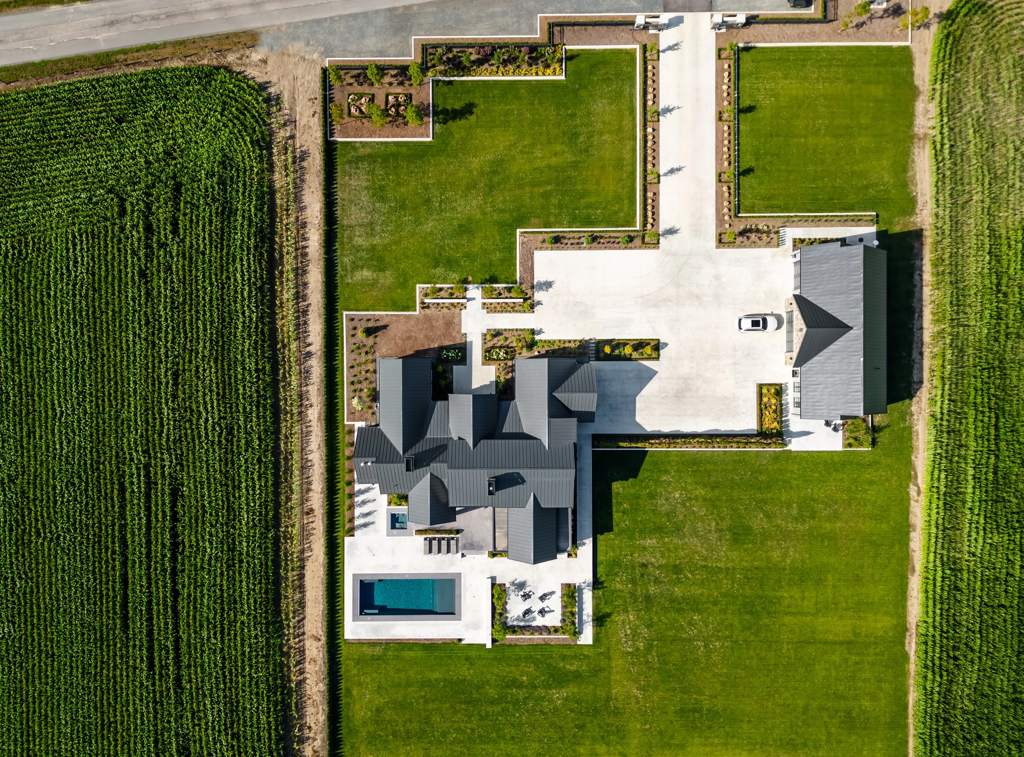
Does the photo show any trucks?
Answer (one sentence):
No, there is no truck in the image.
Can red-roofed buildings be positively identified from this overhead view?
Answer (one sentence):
No, the scene contains no red-roofed building.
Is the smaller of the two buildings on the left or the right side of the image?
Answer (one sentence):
The smaller of the two buildings appears in the right half of the scene.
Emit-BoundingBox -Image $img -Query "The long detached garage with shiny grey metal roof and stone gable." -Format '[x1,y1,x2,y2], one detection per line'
[783,242,888,420]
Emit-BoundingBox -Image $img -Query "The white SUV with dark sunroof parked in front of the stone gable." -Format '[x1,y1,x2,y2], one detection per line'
[737,315,779,334]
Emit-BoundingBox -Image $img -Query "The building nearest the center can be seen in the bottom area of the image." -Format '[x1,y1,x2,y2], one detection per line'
[353,358,597,564]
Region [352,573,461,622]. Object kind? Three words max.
swimming pool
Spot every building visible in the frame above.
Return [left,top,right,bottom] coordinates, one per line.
[353,358,597,564]
[783,242,888,420]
